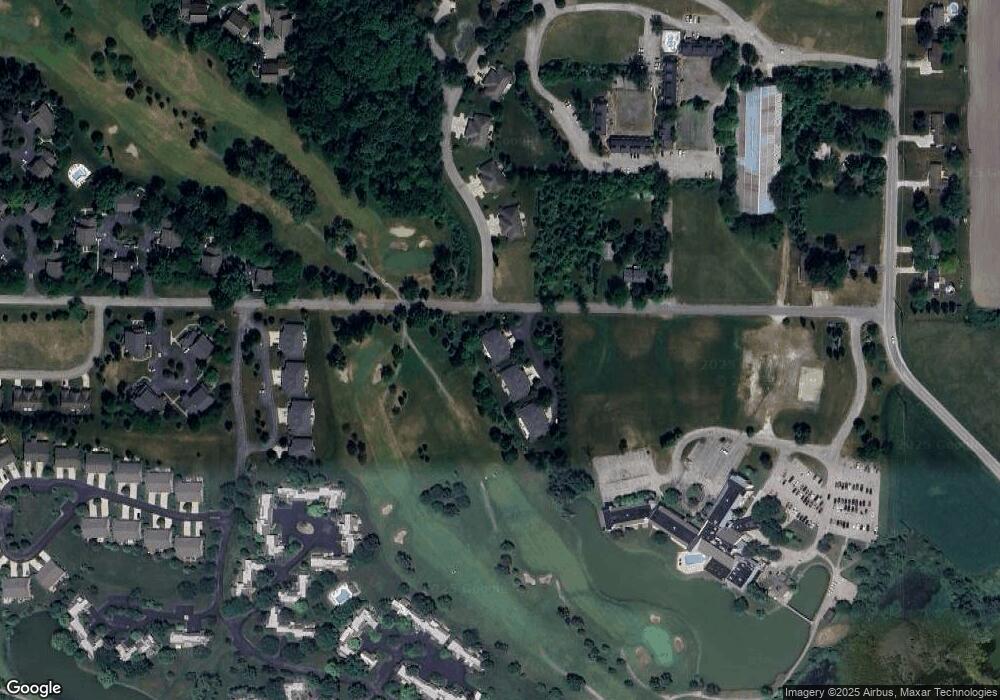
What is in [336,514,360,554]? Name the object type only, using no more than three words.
building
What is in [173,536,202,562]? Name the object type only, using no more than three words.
house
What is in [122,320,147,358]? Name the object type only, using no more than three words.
house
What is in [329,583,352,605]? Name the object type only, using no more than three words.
swimming pool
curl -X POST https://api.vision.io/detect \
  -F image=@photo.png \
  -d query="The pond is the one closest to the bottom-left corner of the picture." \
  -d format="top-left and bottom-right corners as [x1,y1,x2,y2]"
[10,611,129,700]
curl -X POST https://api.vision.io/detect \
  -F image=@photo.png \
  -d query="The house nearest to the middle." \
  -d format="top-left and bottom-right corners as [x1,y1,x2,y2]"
[480,326,516,369]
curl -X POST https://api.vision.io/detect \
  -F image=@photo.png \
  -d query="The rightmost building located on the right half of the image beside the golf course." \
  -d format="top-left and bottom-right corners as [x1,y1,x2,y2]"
[598,474,760,590]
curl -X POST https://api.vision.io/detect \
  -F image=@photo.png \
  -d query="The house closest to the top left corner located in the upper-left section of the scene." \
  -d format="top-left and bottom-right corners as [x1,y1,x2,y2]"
[27,102,54,143]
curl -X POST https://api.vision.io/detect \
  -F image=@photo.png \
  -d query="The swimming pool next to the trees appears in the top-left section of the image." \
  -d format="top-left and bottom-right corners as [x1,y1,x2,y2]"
[68,164,91,187]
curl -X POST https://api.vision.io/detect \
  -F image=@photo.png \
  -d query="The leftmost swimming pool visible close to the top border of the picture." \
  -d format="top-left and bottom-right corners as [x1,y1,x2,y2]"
[662,30,680,53]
